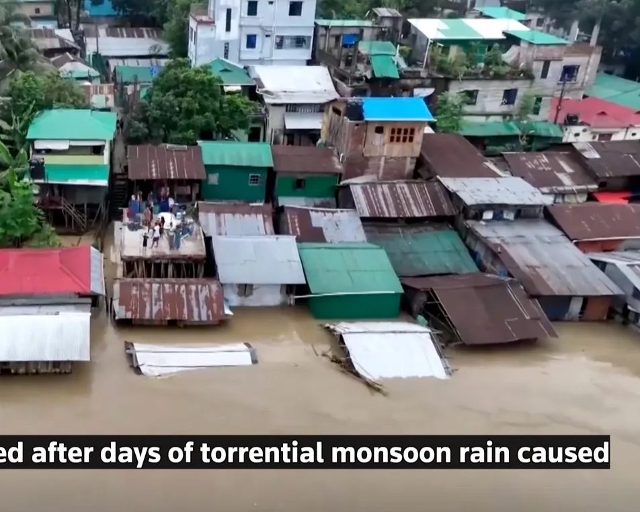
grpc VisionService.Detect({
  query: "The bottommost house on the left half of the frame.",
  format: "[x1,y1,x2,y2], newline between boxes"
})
[0,303,91,373]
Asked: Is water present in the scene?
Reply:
Yes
